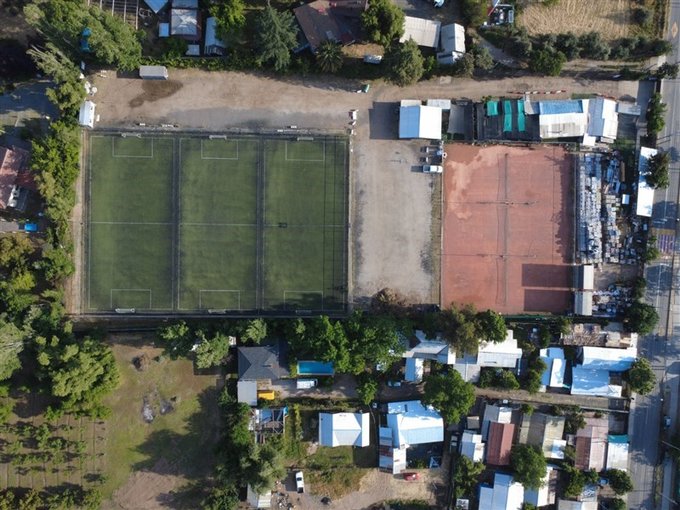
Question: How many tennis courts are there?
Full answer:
Just 1 tennis court appears in this view.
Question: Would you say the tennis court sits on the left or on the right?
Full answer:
It is on the right.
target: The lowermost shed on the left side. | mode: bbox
[247,481,272,509]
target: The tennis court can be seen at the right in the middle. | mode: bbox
[441,144,577,317]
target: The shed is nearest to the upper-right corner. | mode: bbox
[617,103,641,118]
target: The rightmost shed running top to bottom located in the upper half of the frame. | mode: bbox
[630,147,659,217]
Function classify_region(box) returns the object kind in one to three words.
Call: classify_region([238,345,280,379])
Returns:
house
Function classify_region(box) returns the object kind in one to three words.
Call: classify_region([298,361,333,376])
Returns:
swimming pool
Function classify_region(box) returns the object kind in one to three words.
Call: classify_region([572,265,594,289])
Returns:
building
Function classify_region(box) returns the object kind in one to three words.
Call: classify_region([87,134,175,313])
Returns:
soccer field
